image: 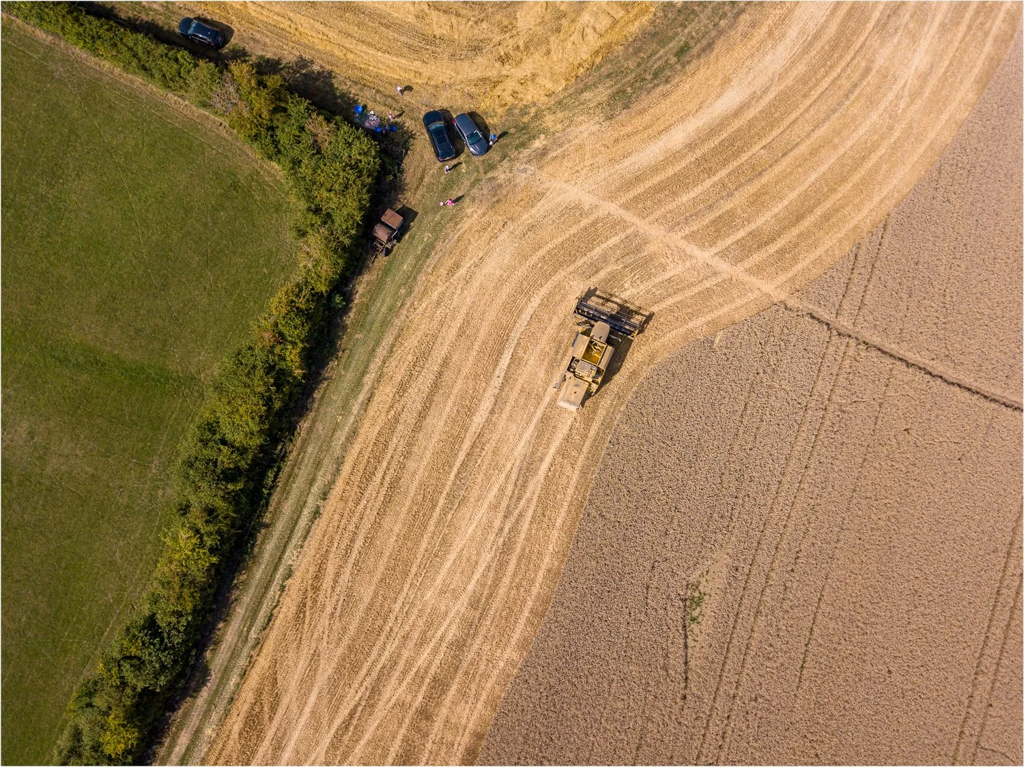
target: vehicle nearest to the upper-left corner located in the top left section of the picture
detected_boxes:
[177,15,227,48]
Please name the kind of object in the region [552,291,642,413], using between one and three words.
work vehicle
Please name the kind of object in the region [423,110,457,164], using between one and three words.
car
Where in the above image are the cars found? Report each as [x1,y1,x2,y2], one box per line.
[455,111,490,157]
[423,110,457,164]
[177,15,227,48]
